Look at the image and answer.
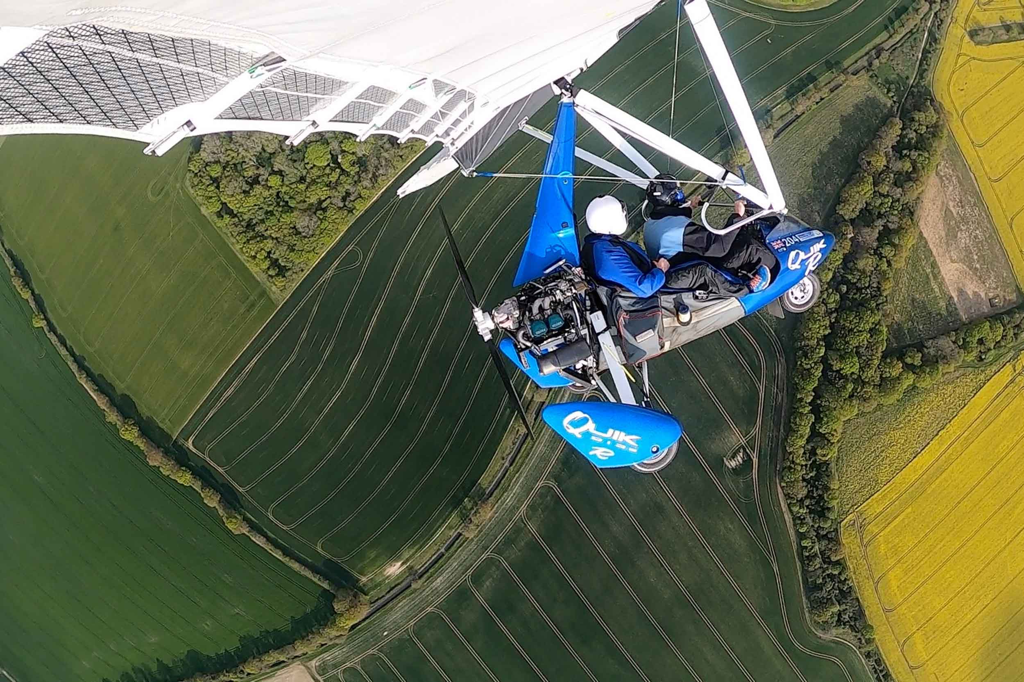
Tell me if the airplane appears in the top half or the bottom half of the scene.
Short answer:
top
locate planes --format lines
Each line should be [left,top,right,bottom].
[0,0,835,472]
